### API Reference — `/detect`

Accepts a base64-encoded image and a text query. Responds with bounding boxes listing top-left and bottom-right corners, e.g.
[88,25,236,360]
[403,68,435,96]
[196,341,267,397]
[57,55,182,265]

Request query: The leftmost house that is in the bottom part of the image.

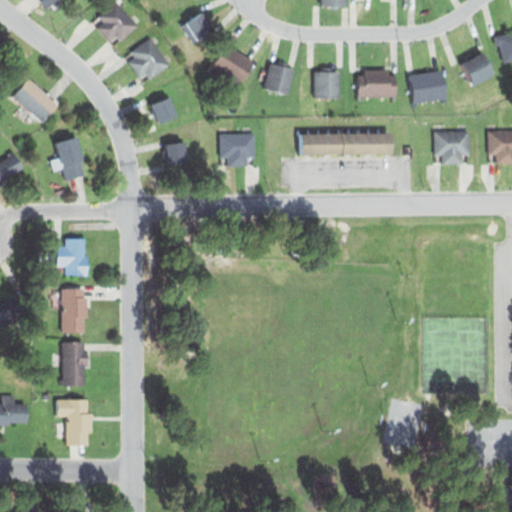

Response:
[0,395,31,424]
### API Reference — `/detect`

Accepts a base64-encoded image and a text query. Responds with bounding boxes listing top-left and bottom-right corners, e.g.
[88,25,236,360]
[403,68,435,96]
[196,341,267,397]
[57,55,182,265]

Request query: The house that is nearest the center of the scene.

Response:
[217,134,255,167]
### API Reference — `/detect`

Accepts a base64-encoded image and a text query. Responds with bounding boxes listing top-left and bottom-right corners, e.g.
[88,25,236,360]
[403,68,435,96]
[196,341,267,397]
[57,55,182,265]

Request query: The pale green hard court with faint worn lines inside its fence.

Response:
[422,318,487,394]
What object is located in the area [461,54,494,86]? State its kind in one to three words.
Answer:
house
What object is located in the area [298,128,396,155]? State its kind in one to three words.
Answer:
building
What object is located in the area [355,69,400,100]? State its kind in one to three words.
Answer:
house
